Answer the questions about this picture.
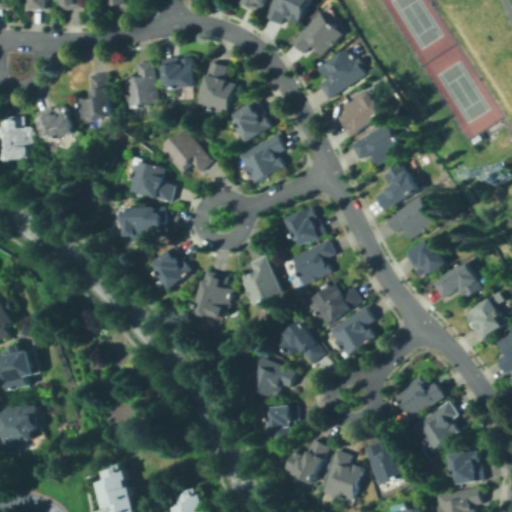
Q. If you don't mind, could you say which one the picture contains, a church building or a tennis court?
tennis court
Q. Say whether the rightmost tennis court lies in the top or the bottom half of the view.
top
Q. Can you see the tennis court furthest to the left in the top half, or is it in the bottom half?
top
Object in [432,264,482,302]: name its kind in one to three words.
house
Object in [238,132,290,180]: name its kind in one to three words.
house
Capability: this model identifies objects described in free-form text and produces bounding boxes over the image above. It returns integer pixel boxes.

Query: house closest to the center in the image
[242,254,284,306]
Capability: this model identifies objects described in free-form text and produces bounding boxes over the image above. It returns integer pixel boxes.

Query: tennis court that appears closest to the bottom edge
[426,48,504,137]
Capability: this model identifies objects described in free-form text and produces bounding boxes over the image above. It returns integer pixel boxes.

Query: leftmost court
[382,0,460,70]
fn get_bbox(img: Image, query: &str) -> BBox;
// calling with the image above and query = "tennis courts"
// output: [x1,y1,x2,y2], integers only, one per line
[426,48,504,137]
[382,0,460,70]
